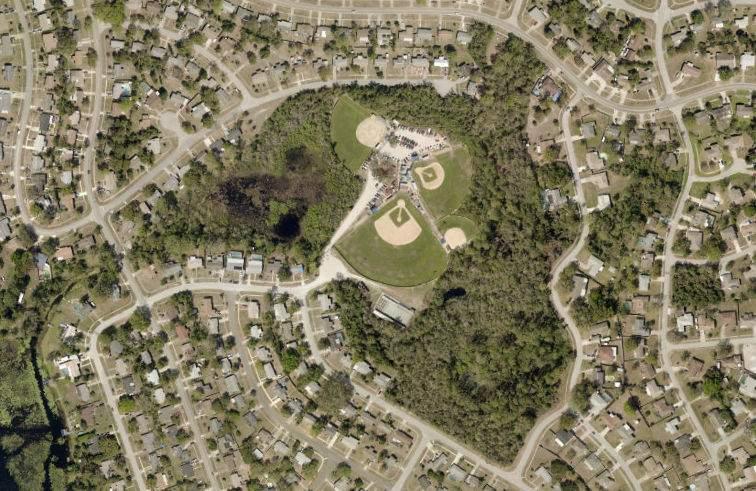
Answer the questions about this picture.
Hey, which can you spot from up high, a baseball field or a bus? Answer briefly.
baseball field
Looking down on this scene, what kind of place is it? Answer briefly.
residential area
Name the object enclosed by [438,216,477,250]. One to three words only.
baseball field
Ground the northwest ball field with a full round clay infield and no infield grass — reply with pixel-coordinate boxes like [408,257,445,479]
[331,94,387,171]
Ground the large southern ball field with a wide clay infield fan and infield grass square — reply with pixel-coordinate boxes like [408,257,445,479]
[334,193,447,288]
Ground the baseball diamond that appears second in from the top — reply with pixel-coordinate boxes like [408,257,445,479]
[413,145,473,221]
